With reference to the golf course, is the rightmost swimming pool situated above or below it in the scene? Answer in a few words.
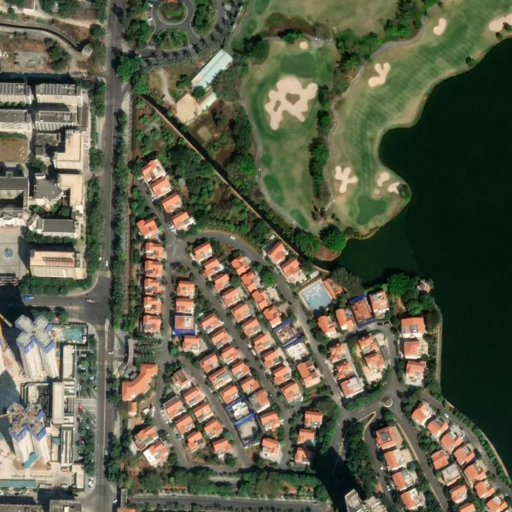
below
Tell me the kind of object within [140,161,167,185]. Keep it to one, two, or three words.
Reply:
house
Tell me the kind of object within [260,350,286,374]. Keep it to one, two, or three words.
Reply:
house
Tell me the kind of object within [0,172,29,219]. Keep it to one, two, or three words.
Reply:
building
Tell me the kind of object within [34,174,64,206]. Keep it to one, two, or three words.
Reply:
building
